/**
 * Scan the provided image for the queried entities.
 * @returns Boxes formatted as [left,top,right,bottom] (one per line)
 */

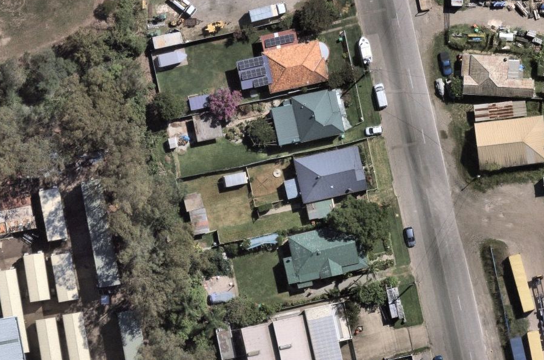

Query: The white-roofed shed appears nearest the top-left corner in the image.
[152,32,182,49]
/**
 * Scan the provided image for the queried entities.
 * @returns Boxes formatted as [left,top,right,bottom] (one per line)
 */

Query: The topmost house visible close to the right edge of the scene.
[461,54,535,97]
